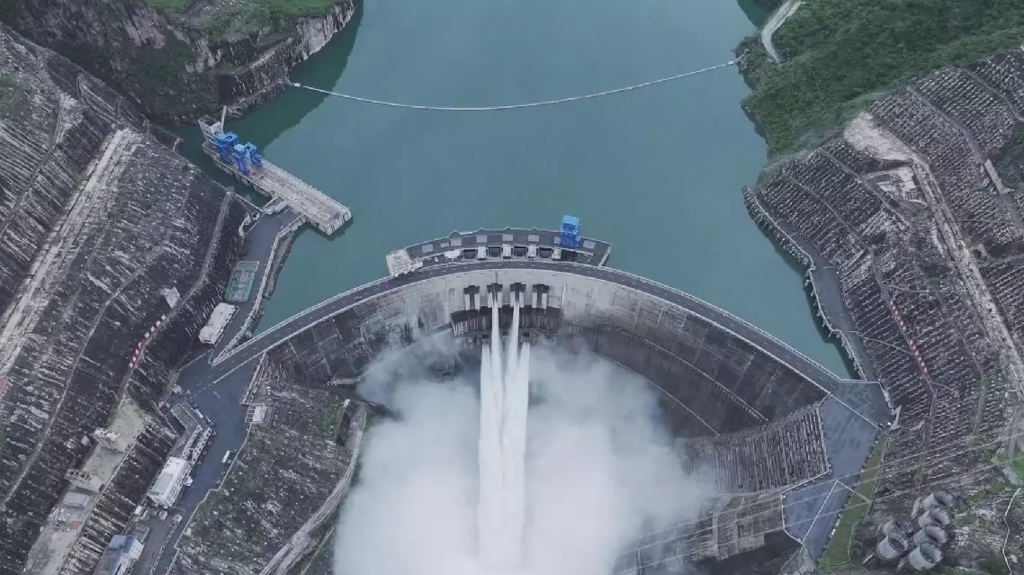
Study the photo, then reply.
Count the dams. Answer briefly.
1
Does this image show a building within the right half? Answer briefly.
No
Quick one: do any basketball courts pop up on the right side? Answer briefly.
No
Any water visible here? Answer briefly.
Yes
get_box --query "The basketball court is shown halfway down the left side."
[225,261,258,301]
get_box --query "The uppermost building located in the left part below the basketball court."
[199,303,238,345]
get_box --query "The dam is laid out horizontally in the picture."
[182,227,848,483]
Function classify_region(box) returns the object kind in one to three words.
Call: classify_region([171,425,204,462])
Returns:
building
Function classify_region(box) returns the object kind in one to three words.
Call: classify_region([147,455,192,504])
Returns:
building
